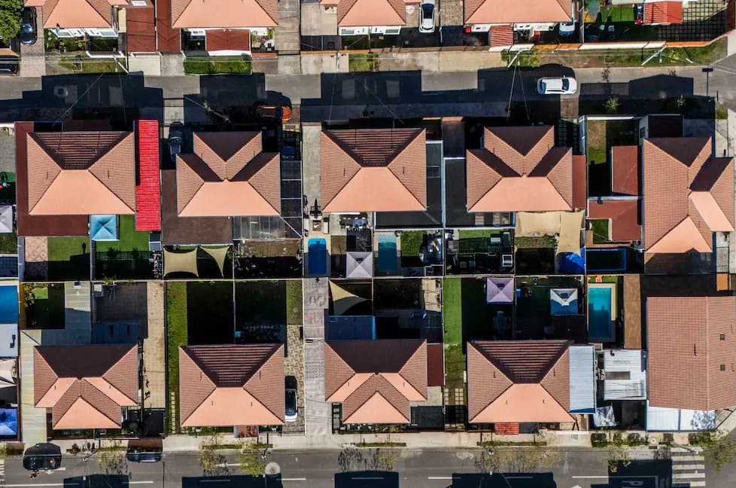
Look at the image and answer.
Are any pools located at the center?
Yes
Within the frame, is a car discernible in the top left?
Yes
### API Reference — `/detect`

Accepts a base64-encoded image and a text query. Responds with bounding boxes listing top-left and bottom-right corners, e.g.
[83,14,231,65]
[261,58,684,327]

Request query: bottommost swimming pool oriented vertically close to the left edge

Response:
[0,283,18,323]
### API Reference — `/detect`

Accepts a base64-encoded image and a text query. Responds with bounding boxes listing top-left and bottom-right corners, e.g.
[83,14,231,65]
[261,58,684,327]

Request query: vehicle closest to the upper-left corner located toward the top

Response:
[19,8,38,46]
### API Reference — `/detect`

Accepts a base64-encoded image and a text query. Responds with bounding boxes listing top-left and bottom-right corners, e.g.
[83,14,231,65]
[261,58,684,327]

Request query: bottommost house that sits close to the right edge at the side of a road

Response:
[636,295,736,413]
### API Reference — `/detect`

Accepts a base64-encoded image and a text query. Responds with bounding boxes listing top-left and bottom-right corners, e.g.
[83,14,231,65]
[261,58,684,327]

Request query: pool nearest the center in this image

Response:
[376,232,399,275]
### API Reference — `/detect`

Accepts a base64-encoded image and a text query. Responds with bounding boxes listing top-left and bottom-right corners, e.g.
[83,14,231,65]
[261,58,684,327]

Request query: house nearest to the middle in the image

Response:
[320,127,427,214]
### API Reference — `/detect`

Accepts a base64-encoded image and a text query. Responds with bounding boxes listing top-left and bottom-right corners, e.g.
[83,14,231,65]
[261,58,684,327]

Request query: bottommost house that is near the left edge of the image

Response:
[32,343,143,430]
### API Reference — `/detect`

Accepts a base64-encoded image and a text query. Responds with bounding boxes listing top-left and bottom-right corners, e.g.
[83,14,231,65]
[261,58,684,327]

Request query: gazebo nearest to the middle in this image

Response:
[346,252,373,279]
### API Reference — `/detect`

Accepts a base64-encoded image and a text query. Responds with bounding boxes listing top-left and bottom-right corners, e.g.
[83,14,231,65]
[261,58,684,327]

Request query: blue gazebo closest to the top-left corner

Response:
[91,215,123,242]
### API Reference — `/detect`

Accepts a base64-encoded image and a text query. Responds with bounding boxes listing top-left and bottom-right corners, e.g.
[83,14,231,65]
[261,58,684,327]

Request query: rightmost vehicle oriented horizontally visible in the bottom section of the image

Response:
[125,442,167,461]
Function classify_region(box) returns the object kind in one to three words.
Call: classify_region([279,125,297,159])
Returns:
car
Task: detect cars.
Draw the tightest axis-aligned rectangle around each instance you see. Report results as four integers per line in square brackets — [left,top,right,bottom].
[255,103,296,123]
[285,379,301,419]
[19,8,38,46]
[24,447,65,467]
[279,125,297,159]
[556,1,576,40]
[417,0,436,33]
[166,123,185,161]
[536,74,576,95]
[125,442,167,461]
